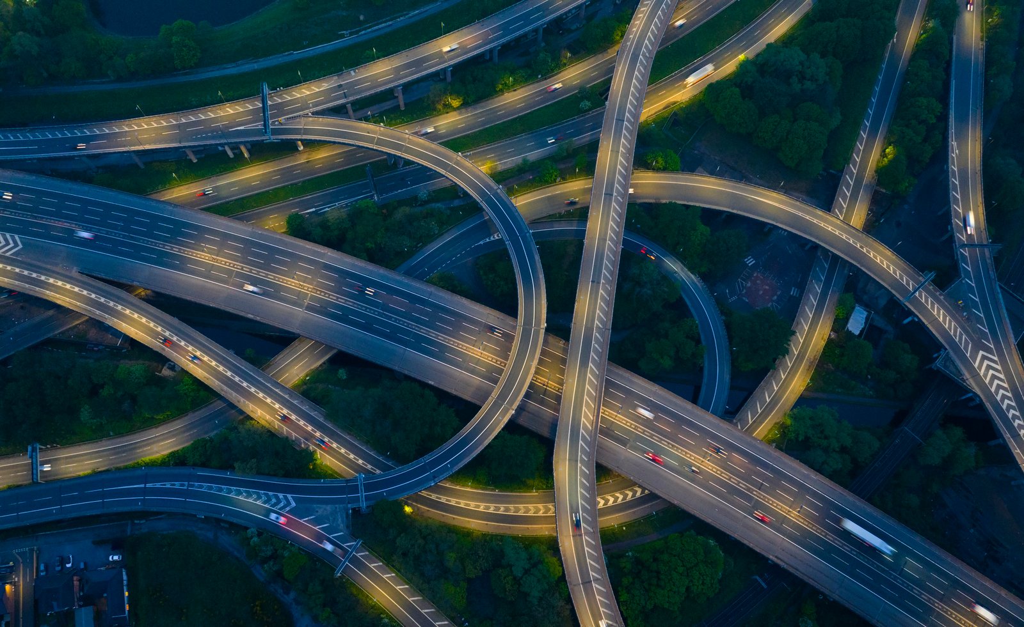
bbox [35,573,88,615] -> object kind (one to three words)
building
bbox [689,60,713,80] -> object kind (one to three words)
vehicle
